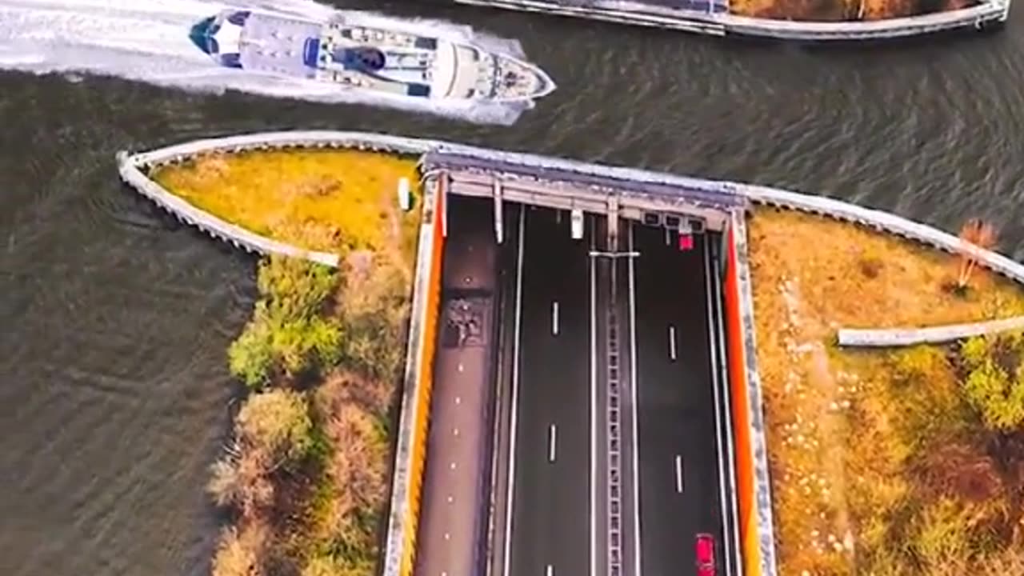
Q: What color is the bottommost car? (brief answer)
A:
red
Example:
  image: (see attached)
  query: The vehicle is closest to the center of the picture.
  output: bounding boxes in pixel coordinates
[568,212,584,242]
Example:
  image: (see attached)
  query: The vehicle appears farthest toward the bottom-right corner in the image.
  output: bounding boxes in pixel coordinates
[695,531,720,576]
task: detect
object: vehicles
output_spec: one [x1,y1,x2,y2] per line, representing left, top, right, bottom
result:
[695,531,720,576]
[678,225,693,249]
[568,212,584,242]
